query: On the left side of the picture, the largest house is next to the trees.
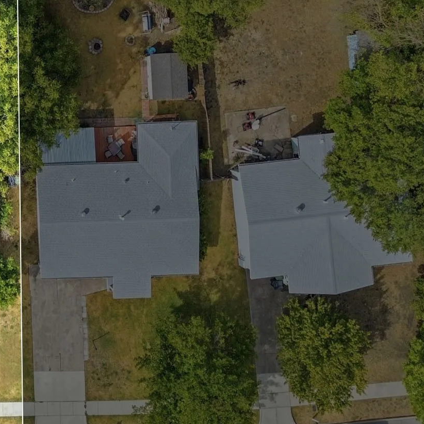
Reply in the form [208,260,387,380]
[35,120,201,299]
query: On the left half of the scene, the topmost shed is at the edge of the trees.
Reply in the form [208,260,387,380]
[143,52,190,101]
